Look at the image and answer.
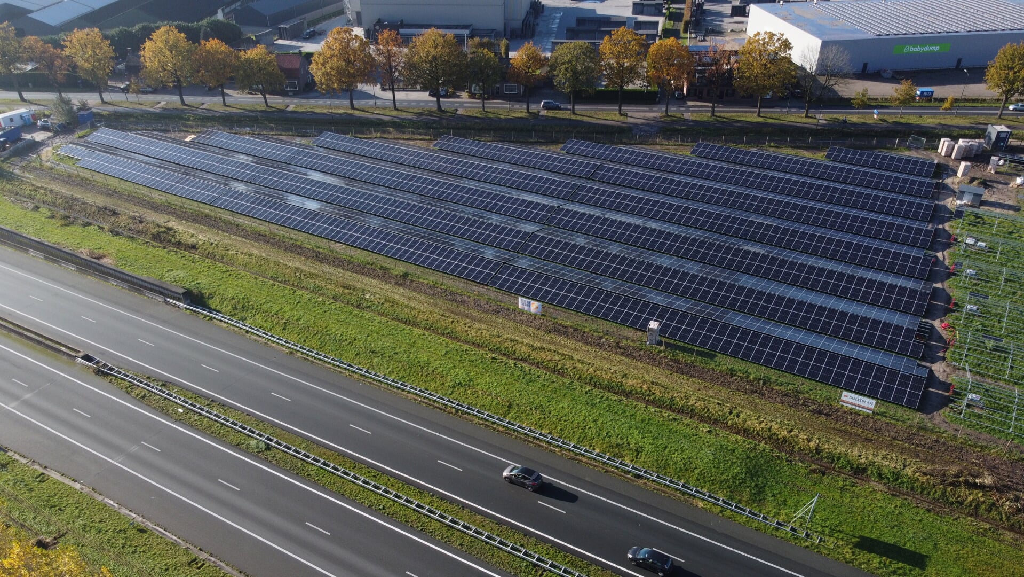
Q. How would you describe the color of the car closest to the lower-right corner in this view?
black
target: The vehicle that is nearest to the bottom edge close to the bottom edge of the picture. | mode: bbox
[627,543,677,575]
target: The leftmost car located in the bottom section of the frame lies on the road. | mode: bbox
[503,464,546,491]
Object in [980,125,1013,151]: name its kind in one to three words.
building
